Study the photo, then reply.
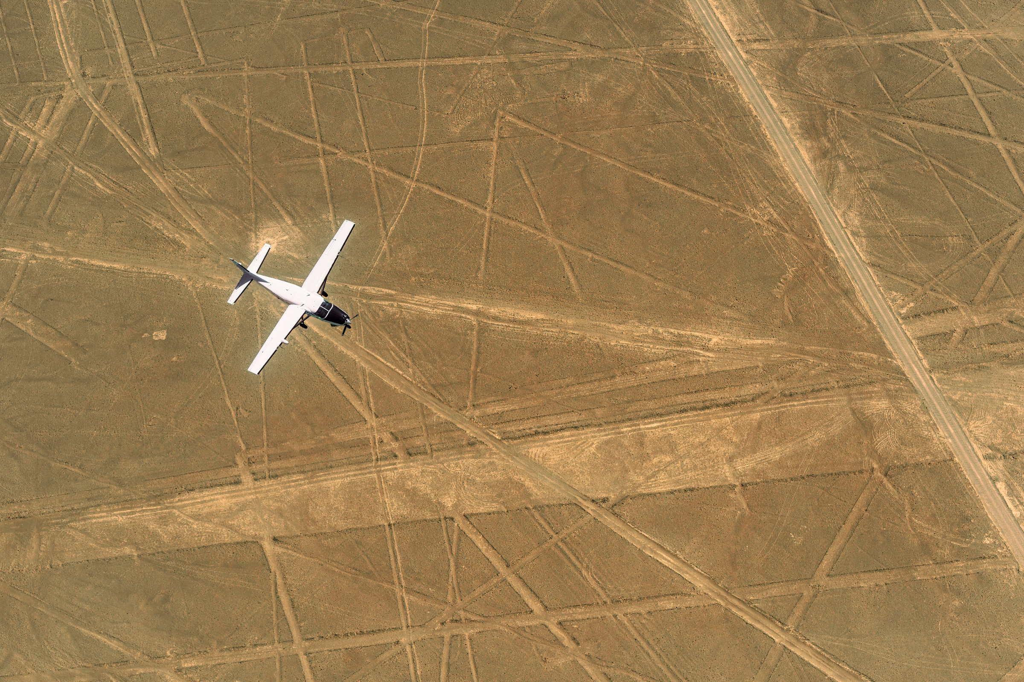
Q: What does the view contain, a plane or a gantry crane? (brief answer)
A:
plane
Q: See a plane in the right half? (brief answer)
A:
No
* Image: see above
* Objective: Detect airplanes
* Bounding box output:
[228,220,358,376]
